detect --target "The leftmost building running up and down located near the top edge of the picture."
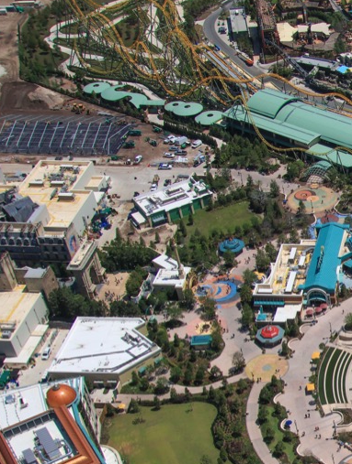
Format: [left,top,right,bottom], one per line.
[229,5,250,42]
